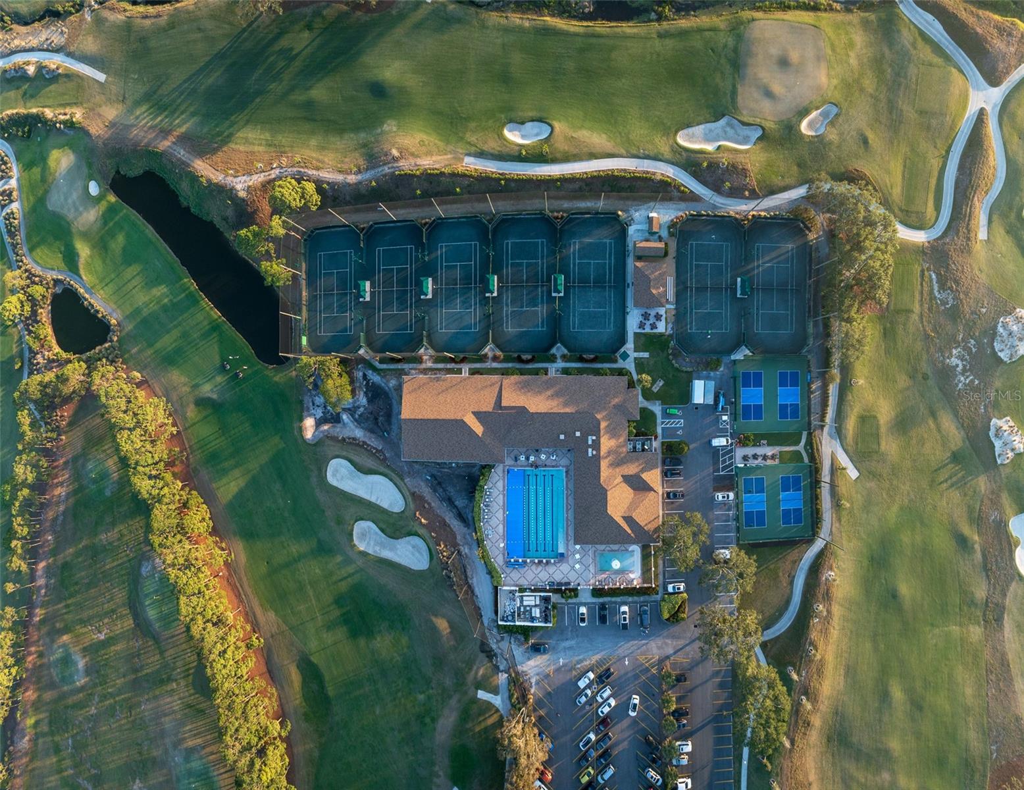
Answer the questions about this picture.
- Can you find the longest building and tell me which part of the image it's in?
center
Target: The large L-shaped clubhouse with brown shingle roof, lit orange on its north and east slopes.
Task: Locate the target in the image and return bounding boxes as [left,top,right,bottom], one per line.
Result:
[401,376,660,544]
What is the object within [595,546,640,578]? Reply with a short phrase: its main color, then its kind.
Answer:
blue swimming pool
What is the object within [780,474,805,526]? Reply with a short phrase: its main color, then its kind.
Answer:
blue sports court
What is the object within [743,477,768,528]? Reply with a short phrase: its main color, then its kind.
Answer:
blue sports court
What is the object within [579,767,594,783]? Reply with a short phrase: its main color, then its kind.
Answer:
green car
